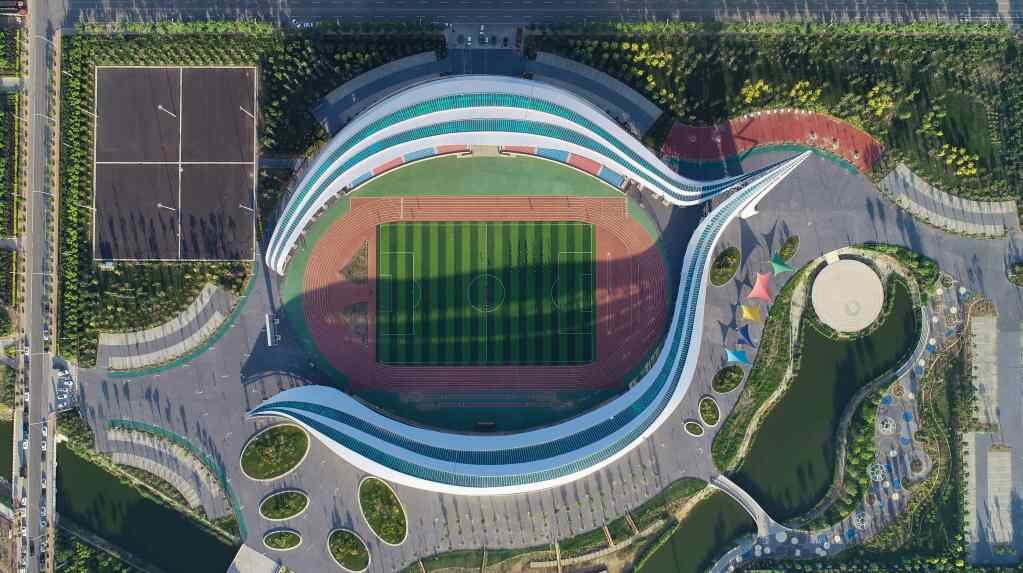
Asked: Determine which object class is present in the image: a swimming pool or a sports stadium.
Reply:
sports stadium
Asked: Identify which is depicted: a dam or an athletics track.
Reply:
athletics track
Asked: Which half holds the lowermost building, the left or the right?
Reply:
left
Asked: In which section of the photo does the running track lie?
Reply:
center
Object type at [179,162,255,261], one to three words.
sports court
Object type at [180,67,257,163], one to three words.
sports court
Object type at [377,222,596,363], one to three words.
soccer field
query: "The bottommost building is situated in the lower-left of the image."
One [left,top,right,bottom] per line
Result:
[230,539,284,573]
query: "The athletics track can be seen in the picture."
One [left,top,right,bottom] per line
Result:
[302,197,667,389]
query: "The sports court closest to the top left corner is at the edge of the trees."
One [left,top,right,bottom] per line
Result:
[95,67,181,162]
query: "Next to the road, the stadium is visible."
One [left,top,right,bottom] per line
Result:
[250,75,811,495]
